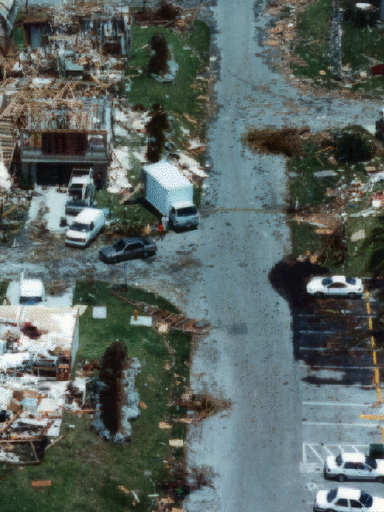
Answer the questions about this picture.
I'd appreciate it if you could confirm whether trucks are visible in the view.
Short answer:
Yes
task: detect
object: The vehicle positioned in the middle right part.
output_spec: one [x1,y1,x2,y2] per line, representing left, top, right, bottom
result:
[303,275,367,300]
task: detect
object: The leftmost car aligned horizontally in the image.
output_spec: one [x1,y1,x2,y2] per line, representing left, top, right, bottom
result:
[97,237,159,264]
